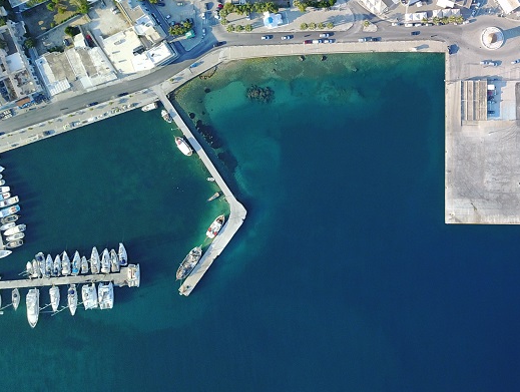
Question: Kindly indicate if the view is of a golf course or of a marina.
marina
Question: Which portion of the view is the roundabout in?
top right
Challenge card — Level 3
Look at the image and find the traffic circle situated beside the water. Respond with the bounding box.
[451,0,520,78]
